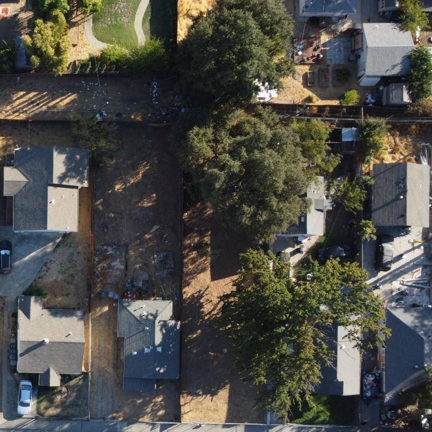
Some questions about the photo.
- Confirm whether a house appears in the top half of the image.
Yes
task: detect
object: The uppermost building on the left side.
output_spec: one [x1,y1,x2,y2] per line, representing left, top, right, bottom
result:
[2,147,88,233]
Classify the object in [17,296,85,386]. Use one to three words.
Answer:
house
